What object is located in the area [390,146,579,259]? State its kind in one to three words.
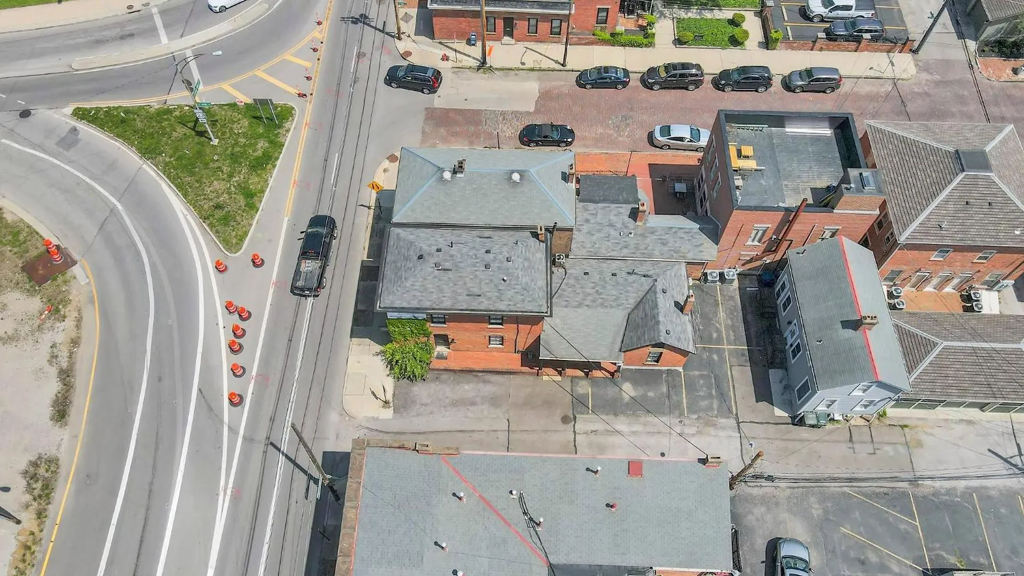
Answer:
house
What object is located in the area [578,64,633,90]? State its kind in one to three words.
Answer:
car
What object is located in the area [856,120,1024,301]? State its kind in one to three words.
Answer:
building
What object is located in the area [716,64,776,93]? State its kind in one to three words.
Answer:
car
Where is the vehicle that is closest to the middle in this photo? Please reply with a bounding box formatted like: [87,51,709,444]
[519,121,575,148]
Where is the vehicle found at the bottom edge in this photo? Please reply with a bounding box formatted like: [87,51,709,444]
[776,539,821,576]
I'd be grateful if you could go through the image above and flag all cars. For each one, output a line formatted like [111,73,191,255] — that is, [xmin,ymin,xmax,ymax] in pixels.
[830,14,889,39]
[653,123,709,153]
[204,0,252,13]
[519,121,575,148]
[644,61,706,91]
[578,64,633,90]
[383,63,444,95]
[776,539,821,576]
[785,65,844,94]
[716,64,776,93]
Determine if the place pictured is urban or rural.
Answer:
urban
